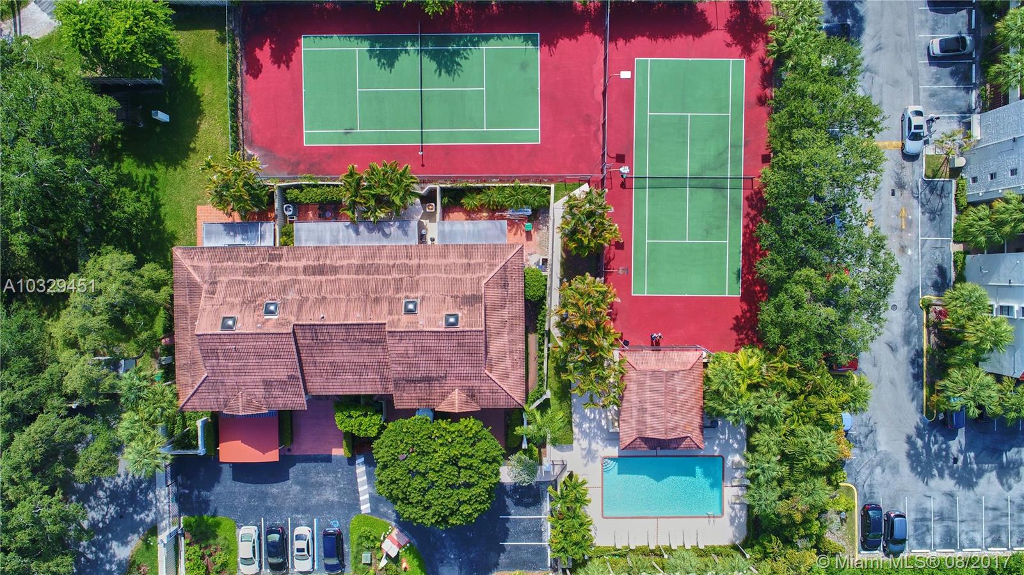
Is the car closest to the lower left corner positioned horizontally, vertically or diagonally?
vertically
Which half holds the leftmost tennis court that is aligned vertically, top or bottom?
top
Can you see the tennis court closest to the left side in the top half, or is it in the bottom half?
top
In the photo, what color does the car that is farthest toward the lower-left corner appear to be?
white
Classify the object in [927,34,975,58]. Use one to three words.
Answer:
car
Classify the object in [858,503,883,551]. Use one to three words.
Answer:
car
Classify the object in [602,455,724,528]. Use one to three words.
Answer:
swimming pool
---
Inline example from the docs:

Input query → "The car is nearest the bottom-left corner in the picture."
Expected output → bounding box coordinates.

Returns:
[238,524,262,573]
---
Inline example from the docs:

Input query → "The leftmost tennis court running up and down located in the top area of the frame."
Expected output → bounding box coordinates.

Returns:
[601,0,773,345]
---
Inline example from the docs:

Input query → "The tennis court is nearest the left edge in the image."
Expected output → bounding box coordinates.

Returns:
[242,0,604,180]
